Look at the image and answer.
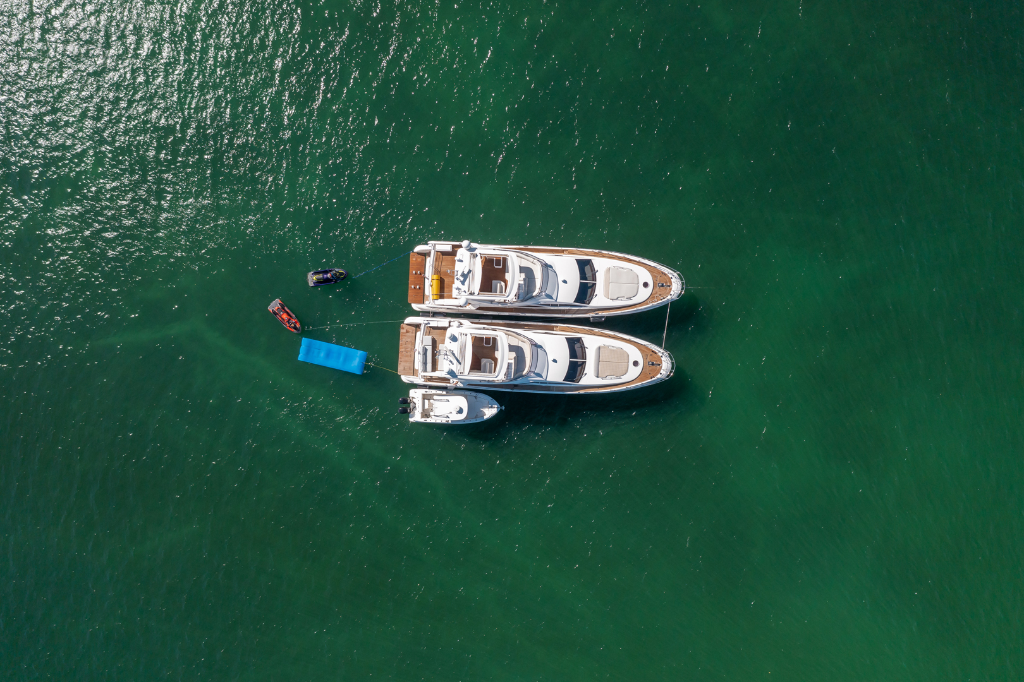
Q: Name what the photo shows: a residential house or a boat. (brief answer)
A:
boat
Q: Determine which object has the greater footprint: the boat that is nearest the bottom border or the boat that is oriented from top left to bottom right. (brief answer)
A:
the boat that is nearest the bottom border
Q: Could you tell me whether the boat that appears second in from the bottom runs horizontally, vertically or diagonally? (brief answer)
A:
horizontally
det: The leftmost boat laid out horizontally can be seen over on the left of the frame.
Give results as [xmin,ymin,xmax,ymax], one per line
[308,269,348,286]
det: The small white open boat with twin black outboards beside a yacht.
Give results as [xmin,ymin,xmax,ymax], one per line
[398,389,505,423]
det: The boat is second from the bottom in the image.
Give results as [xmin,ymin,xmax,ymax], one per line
[398,317,677,394]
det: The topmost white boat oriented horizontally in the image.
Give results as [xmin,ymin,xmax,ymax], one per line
[408,240,687,317]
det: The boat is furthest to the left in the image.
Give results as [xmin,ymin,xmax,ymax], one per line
[269,300,301,333]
